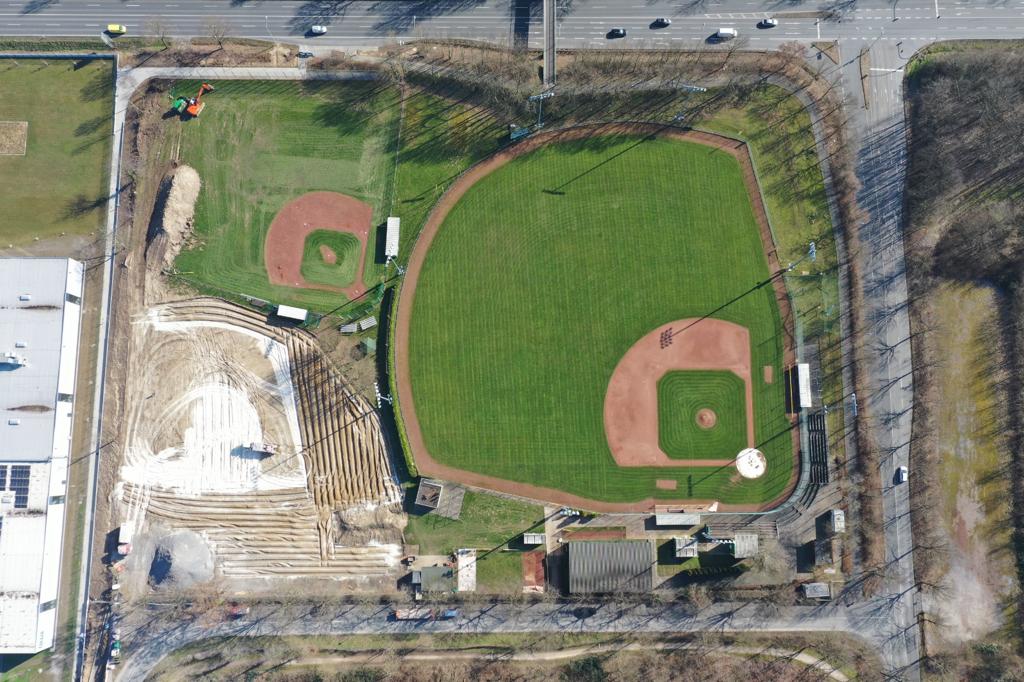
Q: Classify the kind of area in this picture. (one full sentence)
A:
This looks like a sports ground.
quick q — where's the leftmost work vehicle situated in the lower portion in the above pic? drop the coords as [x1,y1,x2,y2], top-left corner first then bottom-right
[115,543,133,555]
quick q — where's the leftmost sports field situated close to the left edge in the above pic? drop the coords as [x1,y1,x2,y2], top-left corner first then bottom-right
[0,58,113,246]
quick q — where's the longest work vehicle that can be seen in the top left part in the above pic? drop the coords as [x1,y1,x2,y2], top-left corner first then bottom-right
[187,89,213,120]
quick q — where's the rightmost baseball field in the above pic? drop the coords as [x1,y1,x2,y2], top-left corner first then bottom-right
[395,124,800,513]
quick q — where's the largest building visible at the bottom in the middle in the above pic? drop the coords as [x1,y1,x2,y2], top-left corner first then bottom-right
[570,541,654,595]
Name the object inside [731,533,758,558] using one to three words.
building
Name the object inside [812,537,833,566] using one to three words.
shed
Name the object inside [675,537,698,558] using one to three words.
building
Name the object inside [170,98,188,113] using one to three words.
vehicle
